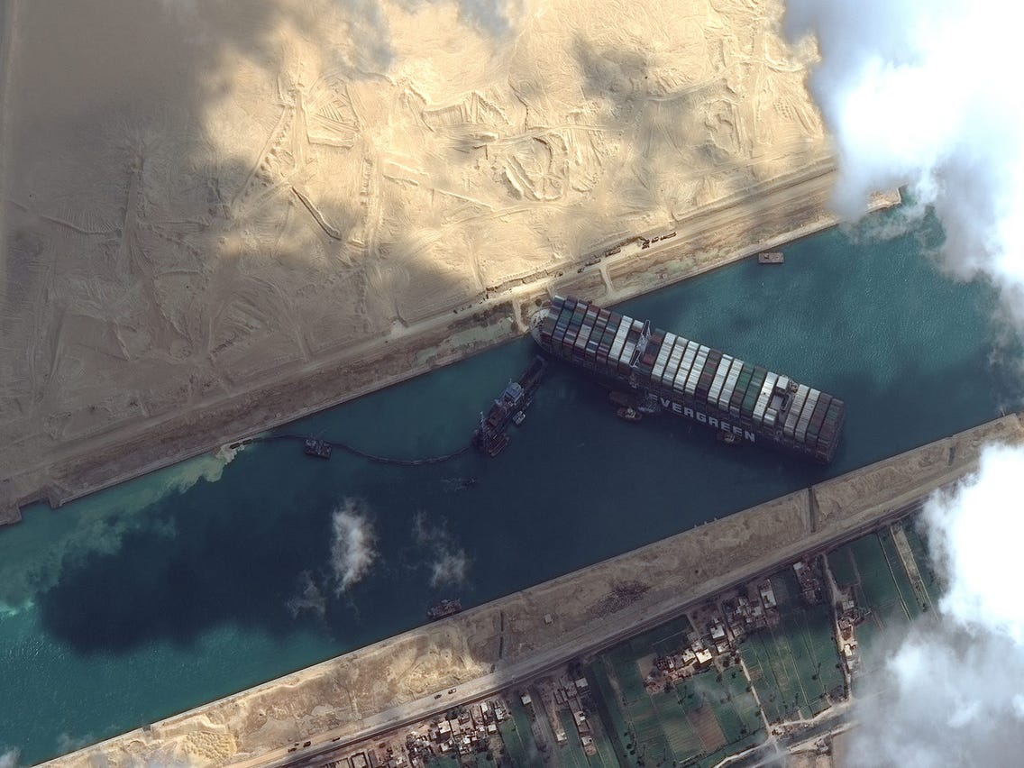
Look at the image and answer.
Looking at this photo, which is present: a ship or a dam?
ship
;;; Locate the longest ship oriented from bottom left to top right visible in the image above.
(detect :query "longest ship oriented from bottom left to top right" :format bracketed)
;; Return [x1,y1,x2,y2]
[484,361,543,448]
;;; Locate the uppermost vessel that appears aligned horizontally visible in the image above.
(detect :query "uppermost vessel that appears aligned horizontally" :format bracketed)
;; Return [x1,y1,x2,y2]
[758,253,783,265]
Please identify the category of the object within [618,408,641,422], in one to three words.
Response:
boat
